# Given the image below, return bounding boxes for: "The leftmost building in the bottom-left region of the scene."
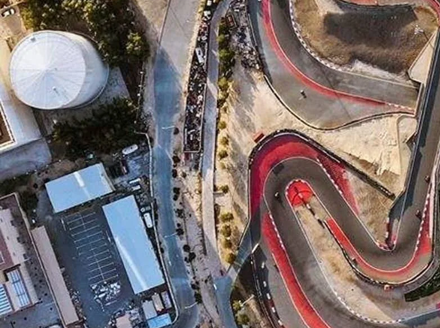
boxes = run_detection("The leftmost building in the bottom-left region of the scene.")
[0,208,44,316]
